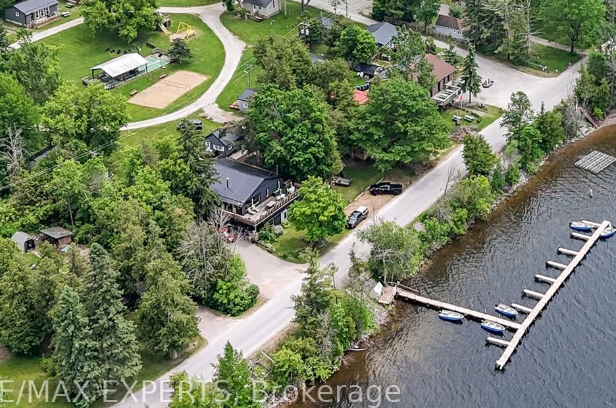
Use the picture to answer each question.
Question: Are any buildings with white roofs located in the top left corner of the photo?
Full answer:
Yes, a building with a white roof is visible in the top left corner of the photo.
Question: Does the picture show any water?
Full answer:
Yes, the picture does contain water.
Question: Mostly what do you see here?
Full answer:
Most of the picture is covered by trees.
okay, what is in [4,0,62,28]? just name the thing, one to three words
house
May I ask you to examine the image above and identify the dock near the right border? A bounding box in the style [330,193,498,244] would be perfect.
[399,218,613,373]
